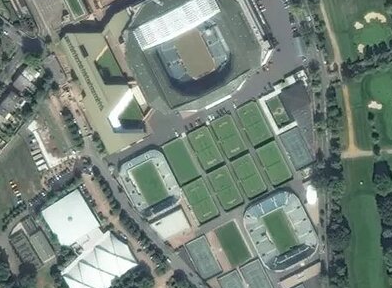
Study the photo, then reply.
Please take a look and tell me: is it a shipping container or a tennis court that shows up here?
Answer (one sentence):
I can see a tennis court in this picture.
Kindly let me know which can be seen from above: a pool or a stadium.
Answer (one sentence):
Of the two, only a stadium appears.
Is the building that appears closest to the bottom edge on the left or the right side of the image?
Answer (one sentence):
The building that appears closest to the bottom edge appears in the right half of the scene.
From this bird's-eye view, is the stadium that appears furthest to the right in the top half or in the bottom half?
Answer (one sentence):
Seen from above, the stadium that appears furthest to the right lies in the bottom half of the view.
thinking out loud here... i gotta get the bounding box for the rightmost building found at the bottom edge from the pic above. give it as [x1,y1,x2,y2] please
[280,263,321,288]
